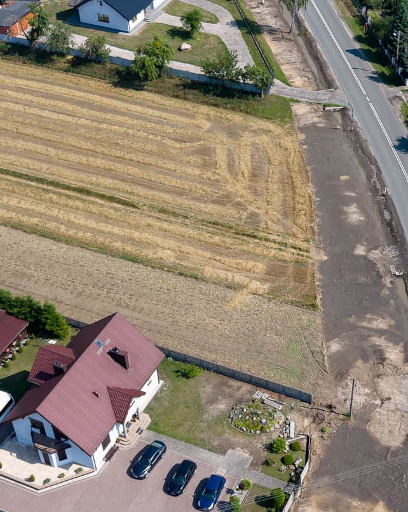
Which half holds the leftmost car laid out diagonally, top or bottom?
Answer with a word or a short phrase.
bottom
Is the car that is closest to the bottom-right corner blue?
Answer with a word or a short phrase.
Yes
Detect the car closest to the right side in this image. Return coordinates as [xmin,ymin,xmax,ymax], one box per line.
[194,469,228,512]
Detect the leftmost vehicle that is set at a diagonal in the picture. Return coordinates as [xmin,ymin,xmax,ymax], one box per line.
[128,436,169,481]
